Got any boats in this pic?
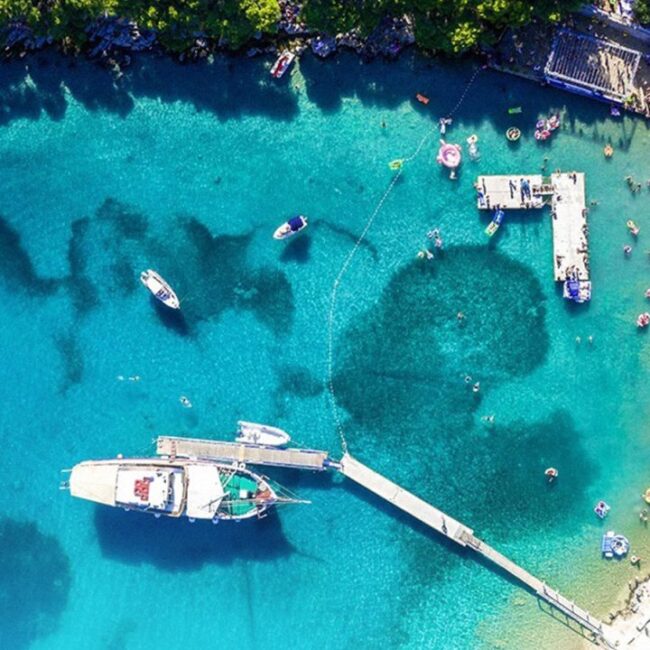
Yes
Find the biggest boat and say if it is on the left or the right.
left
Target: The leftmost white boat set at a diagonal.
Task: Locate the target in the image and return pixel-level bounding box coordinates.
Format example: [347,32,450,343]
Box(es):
[135,265,180,307]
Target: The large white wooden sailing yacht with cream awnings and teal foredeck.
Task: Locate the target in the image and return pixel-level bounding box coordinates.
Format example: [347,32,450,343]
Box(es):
[60,454,308,525]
